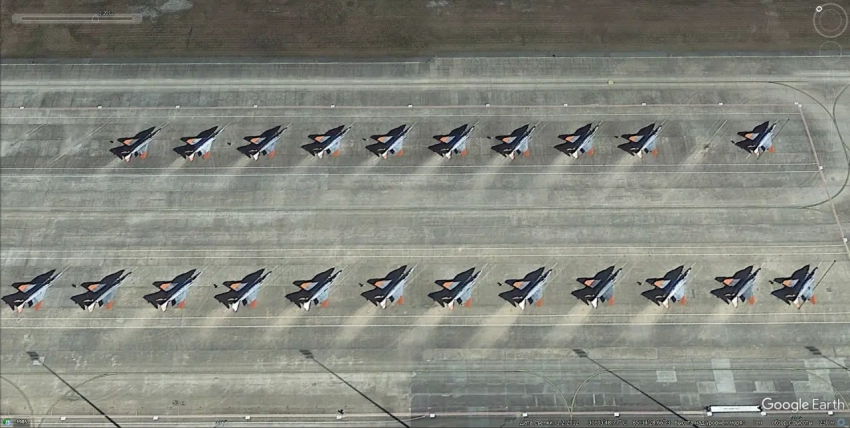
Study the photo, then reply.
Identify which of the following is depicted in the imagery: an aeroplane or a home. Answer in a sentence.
It is an aeroplane that can be seen here.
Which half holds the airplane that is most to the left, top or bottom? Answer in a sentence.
It is in the bottom half that the airplane that is most to the left appears.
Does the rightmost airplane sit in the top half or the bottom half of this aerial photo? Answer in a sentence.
The bottom half of the photo is where the rightmost airplane is.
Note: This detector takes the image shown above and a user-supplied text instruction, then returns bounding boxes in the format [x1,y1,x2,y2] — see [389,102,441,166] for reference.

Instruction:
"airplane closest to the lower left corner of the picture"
[9,272,59,315]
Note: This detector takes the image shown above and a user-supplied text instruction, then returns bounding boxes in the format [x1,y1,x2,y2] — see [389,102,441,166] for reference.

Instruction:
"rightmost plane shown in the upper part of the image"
[743,123,778,158]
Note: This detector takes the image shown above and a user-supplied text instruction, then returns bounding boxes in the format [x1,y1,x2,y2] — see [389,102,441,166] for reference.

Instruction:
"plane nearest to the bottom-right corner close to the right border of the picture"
[784,267,819,309]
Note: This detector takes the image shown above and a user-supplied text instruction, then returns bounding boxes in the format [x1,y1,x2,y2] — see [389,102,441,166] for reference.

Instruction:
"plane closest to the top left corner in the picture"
[115,128,159,163]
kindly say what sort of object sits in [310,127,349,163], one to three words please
airplane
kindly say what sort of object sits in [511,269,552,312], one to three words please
airplane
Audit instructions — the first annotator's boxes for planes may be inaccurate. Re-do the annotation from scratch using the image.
[180,128,222,163]
[370,268,413,310]
[115,128,159,163]
[725,268,763,310]
[9,272,59,315]
[310,127,349,163]
[654,268,692,310]
[498,124,536,161]
[628,124,662,160]
[373,125,412,162]
[784,267,819,309]
[436,125,474,161]
[743,123,778,158]
[584,268,623,310]
[441,270,481,313]
[563,124,598,160]
[511,269,552,312]
[81,271,129,315]
[296,270,341,313]
[154,272,200,314]
[245,126,286,163]
[225,270,271,314]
